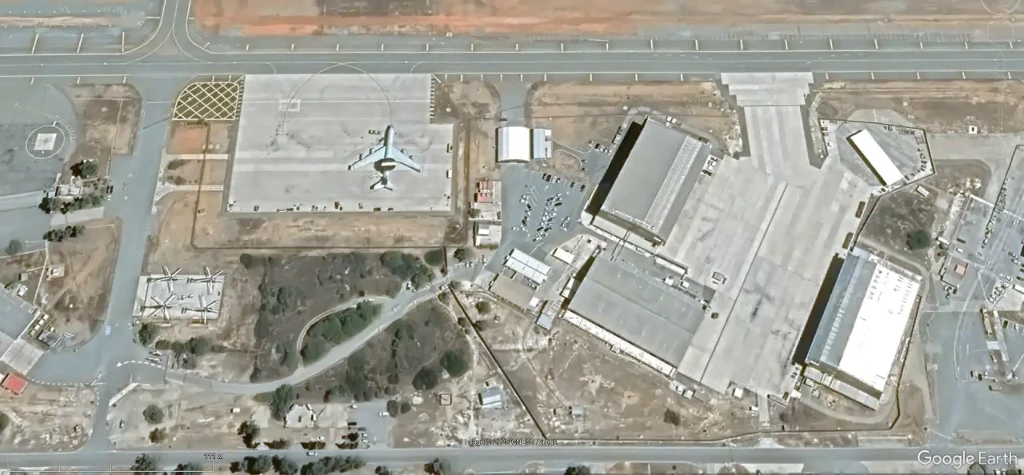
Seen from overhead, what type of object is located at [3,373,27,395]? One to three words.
house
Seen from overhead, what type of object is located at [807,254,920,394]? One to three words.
hangar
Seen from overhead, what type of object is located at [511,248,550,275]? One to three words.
building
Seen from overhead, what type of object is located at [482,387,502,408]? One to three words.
shed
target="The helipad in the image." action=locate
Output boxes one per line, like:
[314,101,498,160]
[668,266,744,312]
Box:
[26,122,65,159]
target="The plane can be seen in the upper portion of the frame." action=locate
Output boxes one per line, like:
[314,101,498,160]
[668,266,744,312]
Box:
[349,126,422,190]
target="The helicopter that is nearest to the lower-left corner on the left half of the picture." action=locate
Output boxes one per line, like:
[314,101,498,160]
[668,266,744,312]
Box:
[140,293,181,321]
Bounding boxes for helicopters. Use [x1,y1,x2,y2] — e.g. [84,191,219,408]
[186,263,227,294]
[140,293,181,321]
[146,264,187,293]
[181,294,221,325]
